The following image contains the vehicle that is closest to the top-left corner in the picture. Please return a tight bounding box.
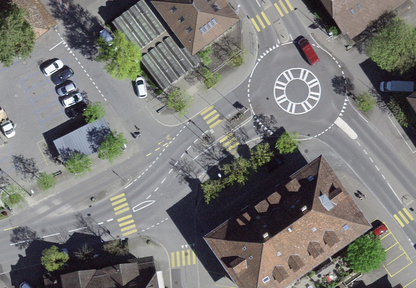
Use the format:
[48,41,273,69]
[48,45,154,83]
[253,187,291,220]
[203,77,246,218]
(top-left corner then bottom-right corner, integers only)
[42,60,64,77]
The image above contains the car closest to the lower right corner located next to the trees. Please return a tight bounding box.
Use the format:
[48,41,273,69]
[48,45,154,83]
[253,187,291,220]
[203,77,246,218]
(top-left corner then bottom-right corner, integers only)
[370,224,390,239]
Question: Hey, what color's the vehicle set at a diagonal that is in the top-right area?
red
